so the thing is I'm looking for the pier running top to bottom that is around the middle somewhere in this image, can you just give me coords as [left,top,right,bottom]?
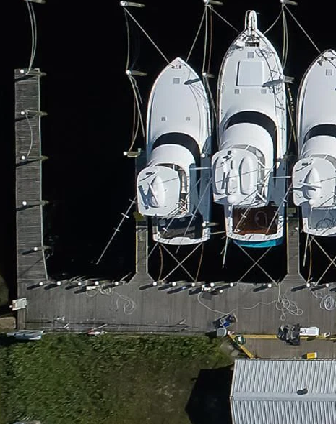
[125,159,157,285]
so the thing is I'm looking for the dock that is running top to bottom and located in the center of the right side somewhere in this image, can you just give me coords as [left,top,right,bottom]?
[278,159,308,283]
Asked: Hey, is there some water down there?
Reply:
Yes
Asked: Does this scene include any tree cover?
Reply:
No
